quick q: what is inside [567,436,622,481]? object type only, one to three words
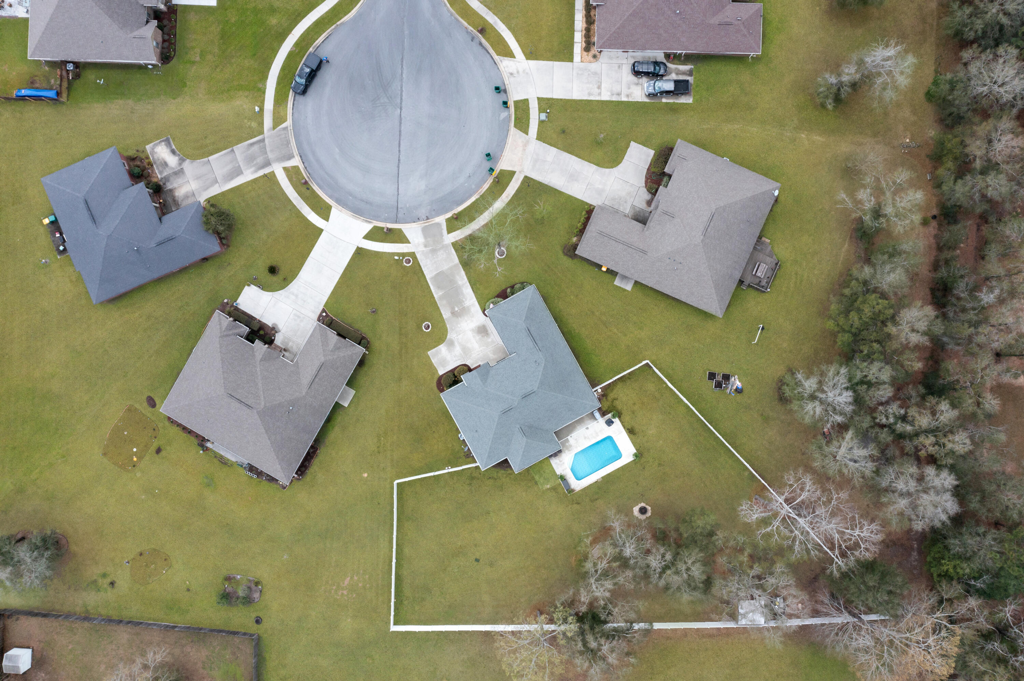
swimming pool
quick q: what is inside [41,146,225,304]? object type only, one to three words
house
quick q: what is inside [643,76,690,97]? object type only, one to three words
truck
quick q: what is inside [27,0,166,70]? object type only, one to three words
house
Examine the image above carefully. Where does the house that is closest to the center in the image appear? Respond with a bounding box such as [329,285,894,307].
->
[439,284,601,474]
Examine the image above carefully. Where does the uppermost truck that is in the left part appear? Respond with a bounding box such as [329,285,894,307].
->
[291,51,324,96]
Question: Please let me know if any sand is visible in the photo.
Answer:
No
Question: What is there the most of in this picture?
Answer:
grass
